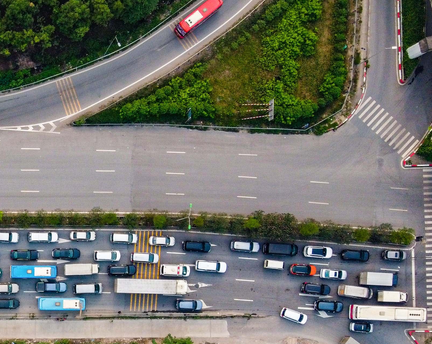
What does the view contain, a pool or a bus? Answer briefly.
bus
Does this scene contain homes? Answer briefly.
No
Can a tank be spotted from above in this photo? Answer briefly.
No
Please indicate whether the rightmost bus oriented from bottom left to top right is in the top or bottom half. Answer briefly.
top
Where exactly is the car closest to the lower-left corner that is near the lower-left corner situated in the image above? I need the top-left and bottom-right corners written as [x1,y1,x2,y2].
[0,298,19,310]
